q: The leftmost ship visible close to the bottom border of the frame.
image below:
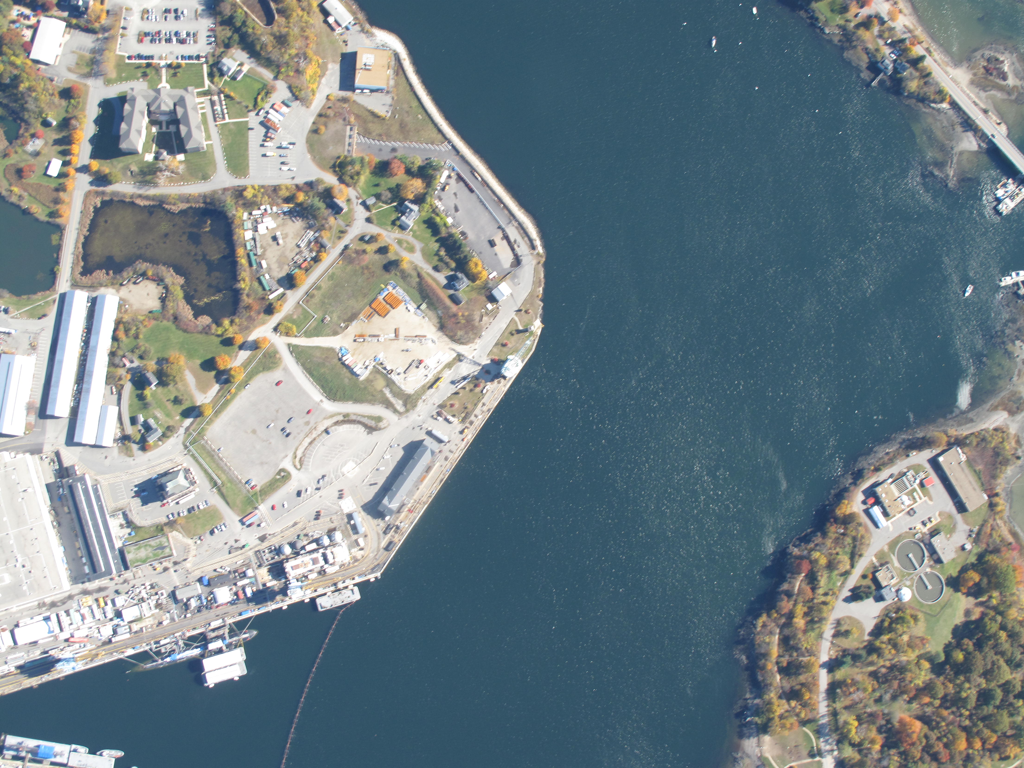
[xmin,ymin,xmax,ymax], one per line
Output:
[3,735,72,765]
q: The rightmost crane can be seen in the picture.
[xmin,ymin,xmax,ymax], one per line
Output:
[497,325,543,383]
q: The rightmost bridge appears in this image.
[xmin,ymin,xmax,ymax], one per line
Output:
[931,68,1024,178]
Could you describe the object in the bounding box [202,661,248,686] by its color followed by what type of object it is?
white ship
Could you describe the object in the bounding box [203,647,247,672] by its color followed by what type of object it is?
white ship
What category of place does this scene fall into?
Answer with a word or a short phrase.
port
